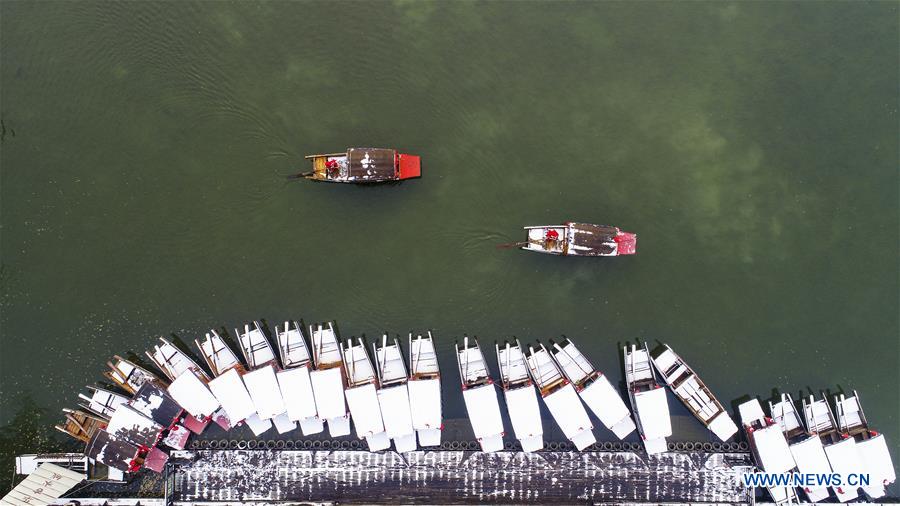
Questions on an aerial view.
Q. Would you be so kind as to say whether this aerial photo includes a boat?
Yes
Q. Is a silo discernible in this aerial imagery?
No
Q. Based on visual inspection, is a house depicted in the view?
No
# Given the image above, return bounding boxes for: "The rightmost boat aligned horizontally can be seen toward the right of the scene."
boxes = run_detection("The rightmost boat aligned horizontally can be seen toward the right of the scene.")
[523,225,637,257]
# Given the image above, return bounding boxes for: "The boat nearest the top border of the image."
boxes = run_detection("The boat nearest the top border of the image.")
[305,149,419,182]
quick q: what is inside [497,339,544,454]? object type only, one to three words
boat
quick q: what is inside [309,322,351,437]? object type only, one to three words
boat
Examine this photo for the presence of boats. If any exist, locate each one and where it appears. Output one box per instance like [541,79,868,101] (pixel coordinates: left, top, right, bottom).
[340,338,390,452]
[309,322,351,437]
[15,452,128,482]
[801,392,864,505]
[456,339,504,453]
[76,387,189,450]
[737,398,803,506]
[194,330,272,437]
[768,394,834,505]
[236,322,298,433]
[652,345,740,443]
[523,225,637,257]
[626,341,671,456]
[374,339,417,454]
[305,149,419,182]
[103,356,208,436]
[524,344,598,452]
[551,340,636,441]
[275,322,323,437]
[497,339,544,454]
[54,409,168,473]
[144,337,236,430]
[832,390,893,504]
[408,332,442,447]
